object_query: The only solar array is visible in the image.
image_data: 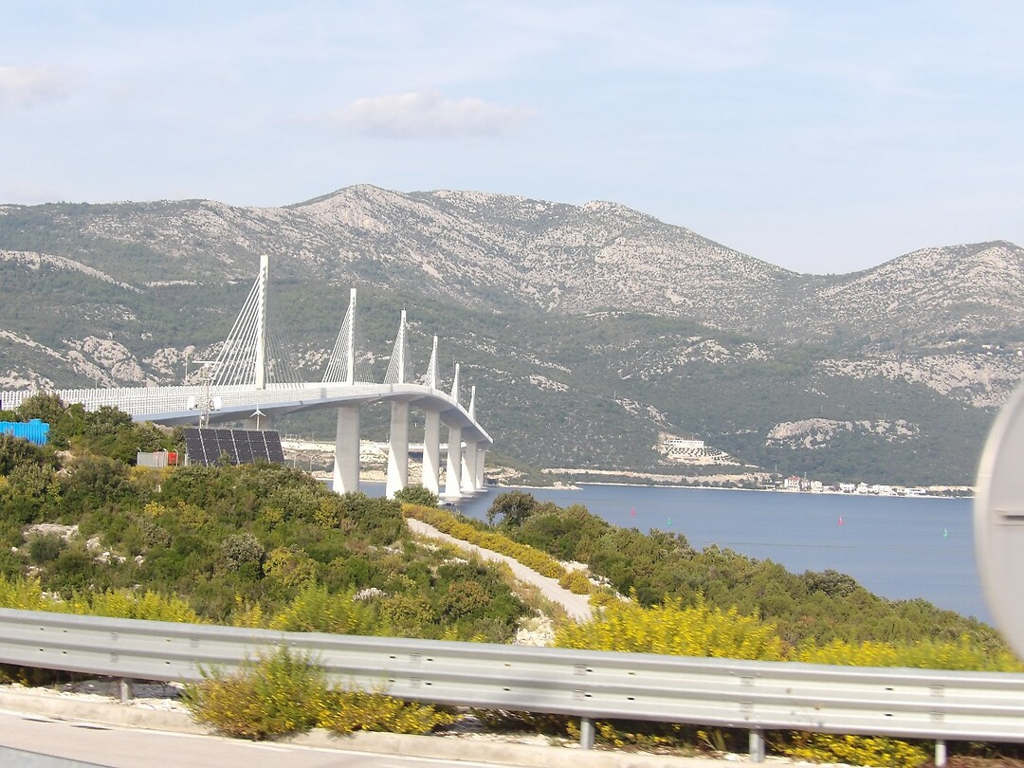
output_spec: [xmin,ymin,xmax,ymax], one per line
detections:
[180,426,286,473]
